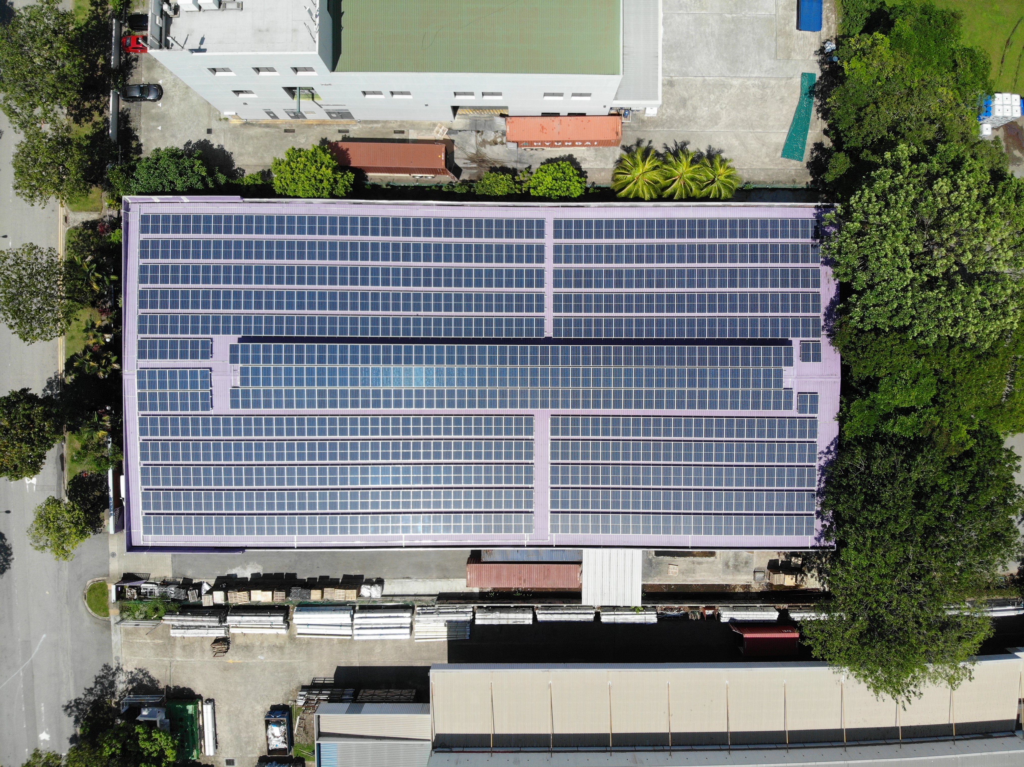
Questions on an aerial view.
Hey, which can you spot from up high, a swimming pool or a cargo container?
cargo container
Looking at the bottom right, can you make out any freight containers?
Yes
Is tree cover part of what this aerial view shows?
Yes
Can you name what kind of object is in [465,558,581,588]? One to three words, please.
shipping container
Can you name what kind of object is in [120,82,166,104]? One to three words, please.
car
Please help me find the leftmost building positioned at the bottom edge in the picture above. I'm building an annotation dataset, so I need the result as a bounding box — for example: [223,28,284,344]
[136,699,173,733]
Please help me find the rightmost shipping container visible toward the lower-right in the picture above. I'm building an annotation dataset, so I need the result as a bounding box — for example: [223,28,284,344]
[724,618,800,656]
